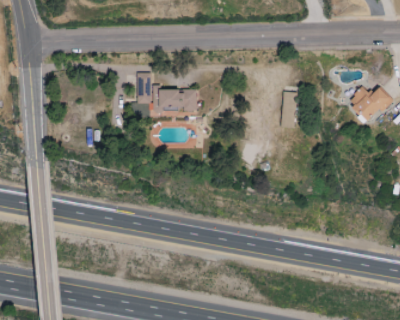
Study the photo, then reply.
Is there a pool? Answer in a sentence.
Yes, I can see a pool in this picture.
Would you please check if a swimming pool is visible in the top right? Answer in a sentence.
Yes, a swimming pool is visible in the top right.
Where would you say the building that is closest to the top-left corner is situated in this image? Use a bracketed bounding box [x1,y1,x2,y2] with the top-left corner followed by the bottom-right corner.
[138,72,152,102]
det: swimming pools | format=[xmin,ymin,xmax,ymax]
[328,64,370,108]
[147,114,198,148]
